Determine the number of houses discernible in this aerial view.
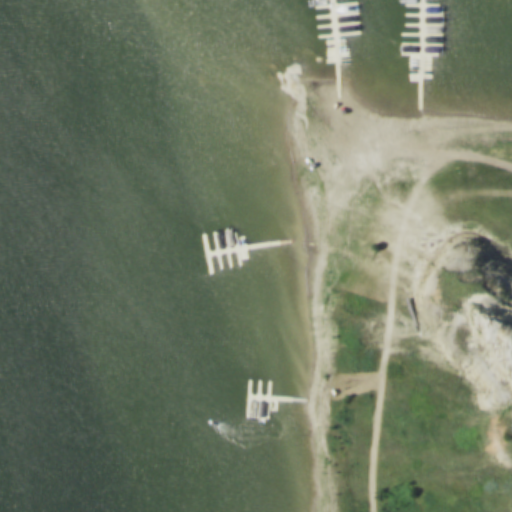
0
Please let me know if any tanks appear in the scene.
No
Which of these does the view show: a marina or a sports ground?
marina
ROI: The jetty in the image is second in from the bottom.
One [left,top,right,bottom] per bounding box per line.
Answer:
[202,228,293,274]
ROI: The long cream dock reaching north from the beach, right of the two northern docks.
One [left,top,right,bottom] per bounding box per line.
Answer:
[400,0,445,112]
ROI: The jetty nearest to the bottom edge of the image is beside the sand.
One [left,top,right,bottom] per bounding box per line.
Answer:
[246,379,310,424]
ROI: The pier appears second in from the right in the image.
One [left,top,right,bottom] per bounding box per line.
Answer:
[314,0,362,101]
